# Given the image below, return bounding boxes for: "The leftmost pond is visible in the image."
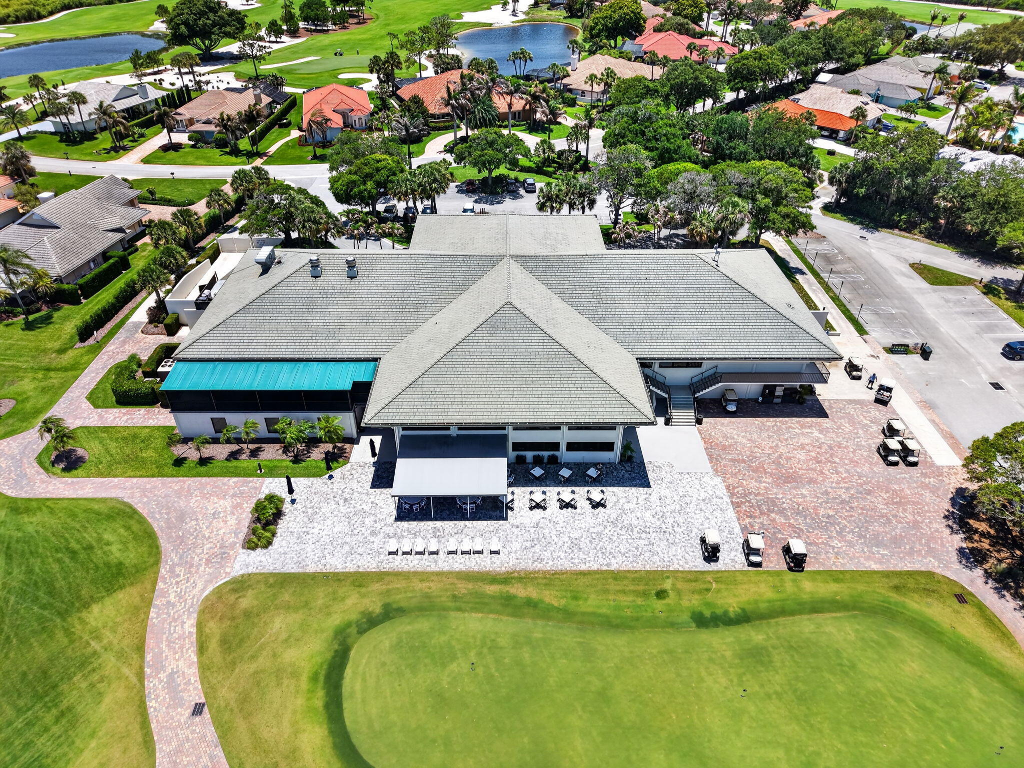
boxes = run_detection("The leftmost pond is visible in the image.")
[0,32,168,78]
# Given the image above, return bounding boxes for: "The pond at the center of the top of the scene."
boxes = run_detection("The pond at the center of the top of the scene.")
[455,21,580,80]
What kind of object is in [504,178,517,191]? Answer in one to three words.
vehicle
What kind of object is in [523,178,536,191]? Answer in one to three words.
vehicle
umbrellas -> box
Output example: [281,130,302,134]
[370,439,379,464]
[324,452,333,478]
[285,475,296,502]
